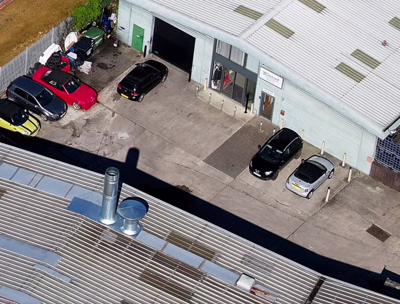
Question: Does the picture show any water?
No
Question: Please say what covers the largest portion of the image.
buildings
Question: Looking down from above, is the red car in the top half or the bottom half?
top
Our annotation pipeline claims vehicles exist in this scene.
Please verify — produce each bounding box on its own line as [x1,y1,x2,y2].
[5,72,66,120]
[286,157,335,199]
[51,63,101,111]
[0,96,42,137]
[247,126,307,182]
[115,58,168,103]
